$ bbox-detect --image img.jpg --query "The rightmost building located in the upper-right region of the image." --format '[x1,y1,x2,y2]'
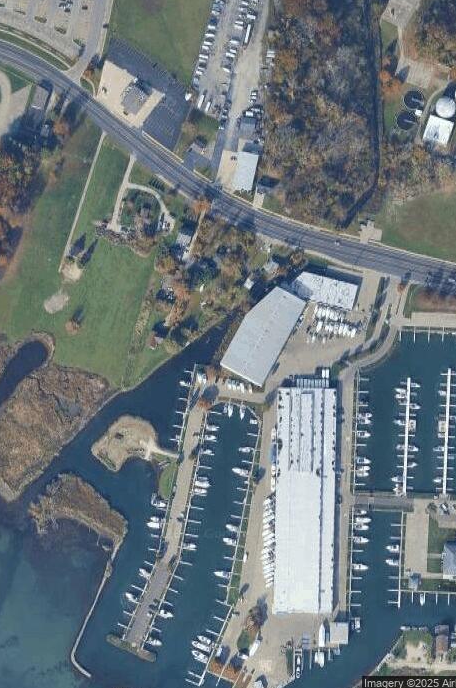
[424,114,455,145]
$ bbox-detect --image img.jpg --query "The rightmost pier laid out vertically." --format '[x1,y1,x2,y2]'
[436,368,456,495]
